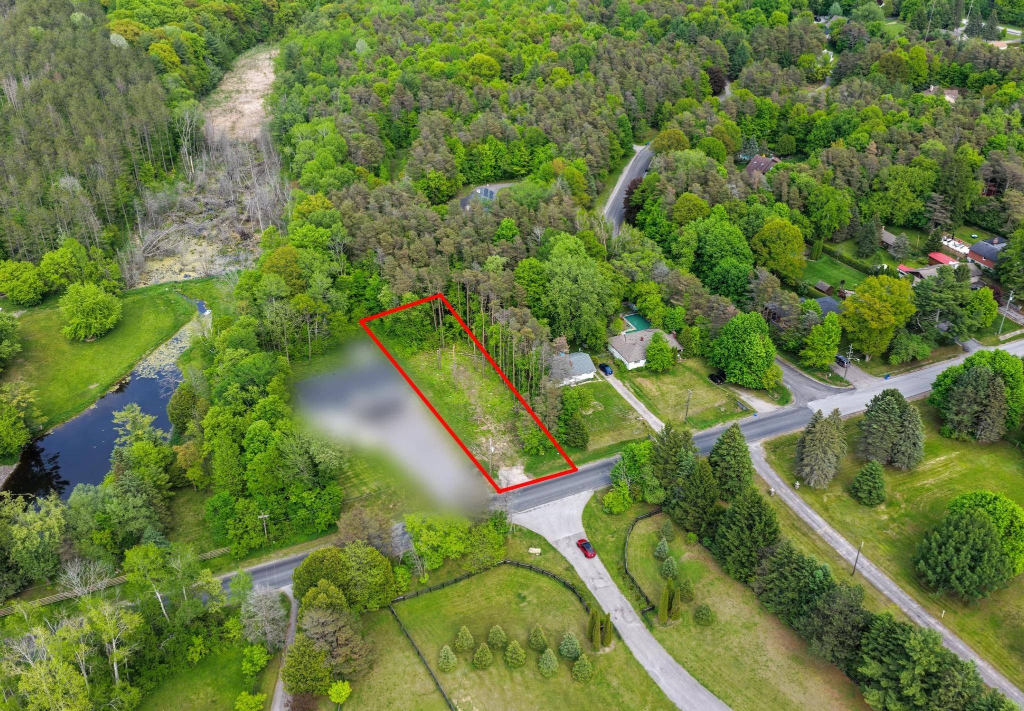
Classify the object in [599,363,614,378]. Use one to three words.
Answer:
car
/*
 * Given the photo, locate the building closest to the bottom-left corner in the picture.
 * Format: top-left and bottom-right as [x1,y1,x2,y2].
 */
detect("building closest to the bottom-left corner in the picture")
[291,354,410,419]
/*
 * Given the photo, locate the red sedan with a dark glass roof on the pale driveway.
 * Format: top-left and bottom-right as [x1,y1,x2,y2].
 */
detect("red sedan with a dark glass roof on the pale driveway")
[574,537,600,561]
